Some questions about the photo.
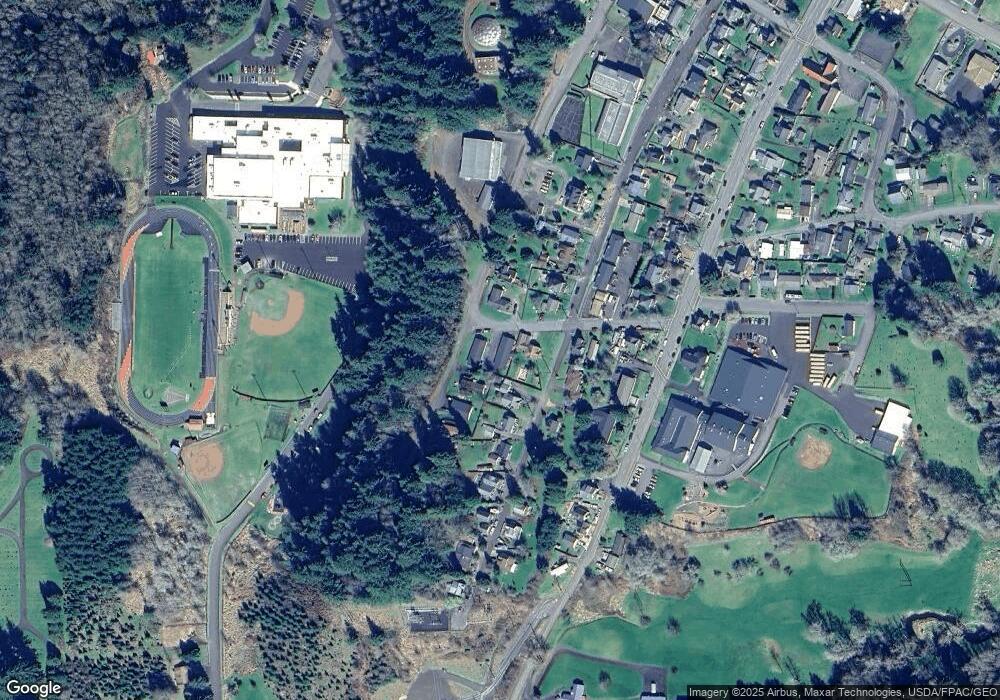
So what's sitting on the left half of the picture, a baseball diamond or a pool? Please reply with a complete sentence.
What appears on the left half of the picture is a baseball diamond.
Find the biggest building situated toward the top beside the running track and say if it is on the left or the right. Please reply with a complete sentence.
The biggest building situated toward the top beside the running track appears in the left half of the scene.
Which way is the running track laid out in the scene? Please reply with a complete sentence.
The running track runs up and down in the image.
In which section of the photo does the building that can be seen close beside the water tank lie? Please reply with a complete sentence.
The building that can be seen close beside the water tank appears toward the top of the photo.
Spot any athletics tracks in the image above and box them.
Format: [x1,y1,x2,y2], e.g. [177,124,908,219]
[116,204,223,428]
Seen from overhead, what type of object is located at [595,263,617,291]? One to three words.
building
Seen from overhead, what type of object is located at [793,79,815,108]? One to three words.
house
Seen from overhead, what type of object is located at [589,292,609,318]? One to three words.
building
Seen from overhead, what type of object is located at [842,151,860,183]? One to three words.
house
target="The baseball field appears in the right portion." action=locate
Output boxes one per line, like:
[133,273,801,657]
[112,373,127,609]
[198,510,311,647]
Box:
[726,424,890,531]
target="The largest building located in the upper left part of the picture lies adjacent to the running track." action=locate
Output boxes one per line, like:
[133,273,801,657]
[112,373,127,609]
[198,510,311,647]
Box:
[191,115,354,229]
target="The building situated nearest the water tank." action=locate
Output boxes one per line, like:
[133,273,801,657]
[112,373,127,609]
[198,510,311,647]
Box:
[475,57,501,76]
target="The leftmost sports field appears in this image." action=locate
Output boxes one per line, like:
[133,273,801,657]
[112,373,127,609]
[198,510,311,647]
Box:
[132,219,205,415]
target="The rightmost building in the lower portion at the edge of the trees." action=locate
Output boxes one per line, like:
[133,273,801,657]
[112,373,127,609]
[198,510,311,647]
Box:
[871,400,914,456]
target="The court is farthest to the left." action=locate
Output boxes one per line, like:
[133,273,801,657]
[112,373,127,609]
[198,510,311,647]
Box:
[550,95,585,146]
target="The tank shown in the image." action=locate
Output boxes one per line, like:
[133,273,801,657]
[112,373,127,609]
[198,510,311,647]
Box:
[472,16,500,46]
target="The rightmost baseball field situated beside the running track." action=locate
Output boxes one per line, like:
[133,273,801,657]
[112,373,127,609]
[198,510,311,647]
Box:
[231,266,346,401]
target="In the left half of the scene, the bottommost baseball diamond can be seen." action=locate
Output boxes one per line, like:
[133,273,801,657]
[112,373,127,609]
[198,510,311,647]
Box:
[183,412,262,523]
